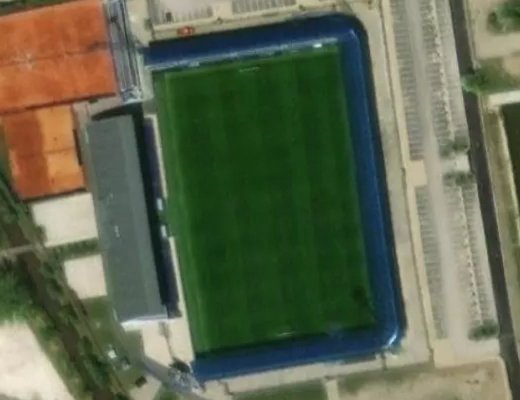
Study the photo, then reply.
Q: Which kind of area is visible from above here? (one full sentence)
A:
It's a sports ground.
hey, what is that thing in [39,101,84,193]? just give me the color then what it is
orange tennis court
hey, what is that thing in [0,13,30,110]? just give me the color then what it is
orange tennis court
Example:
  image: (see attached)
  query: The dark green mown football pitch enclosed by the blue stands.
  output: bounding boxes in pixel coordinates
[150,44,375,356]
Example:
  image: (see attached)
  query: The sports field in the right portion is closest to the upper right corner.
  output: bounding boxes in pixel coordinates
[494,93,520,288]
